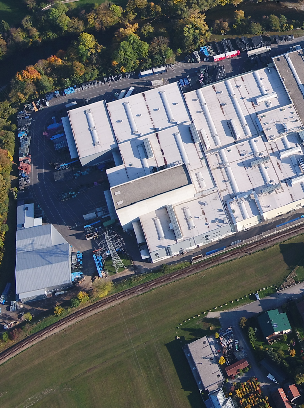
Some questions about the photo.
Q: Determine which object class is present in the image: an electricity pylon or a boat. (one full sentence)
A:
The image shows an electricity pylon.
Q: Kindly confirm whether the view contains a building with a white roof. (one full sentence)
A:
Yes, a building with a white roof appears in the view.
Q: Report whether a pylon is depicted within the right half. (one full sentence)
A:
No, looking within the right half, there is no pylon.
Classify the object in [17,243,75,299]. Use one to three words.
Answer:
building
